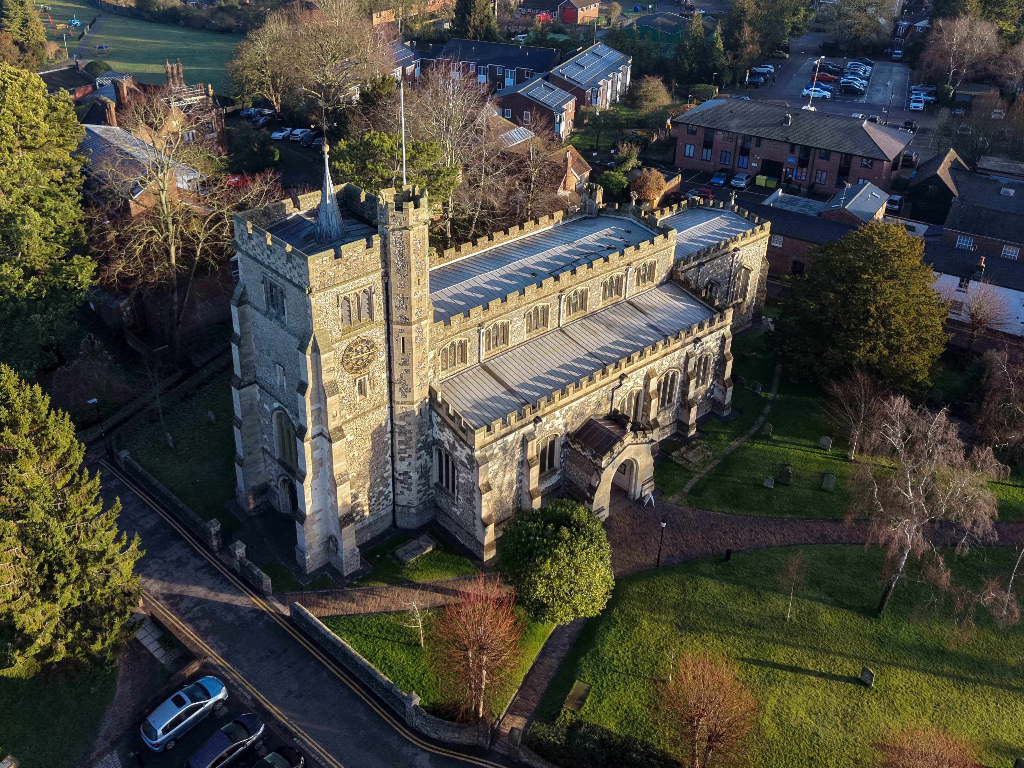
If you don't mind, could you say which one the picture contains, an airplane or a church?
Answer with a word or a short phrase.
church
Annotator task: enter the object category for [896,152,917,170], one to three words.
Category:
car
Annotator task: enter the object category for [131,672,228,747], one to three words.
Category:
car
